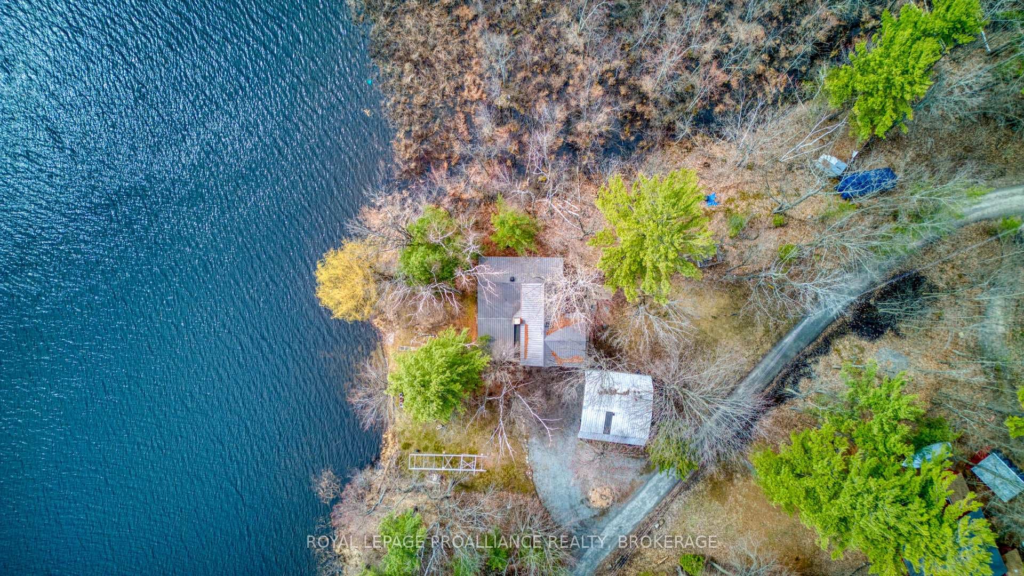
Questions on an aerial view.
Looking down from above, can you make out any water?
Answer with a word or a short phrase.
Yes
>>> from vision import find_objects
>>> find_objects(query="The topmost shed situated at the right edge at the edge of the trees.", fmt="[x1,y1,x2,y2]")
[967,453,1024,502]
